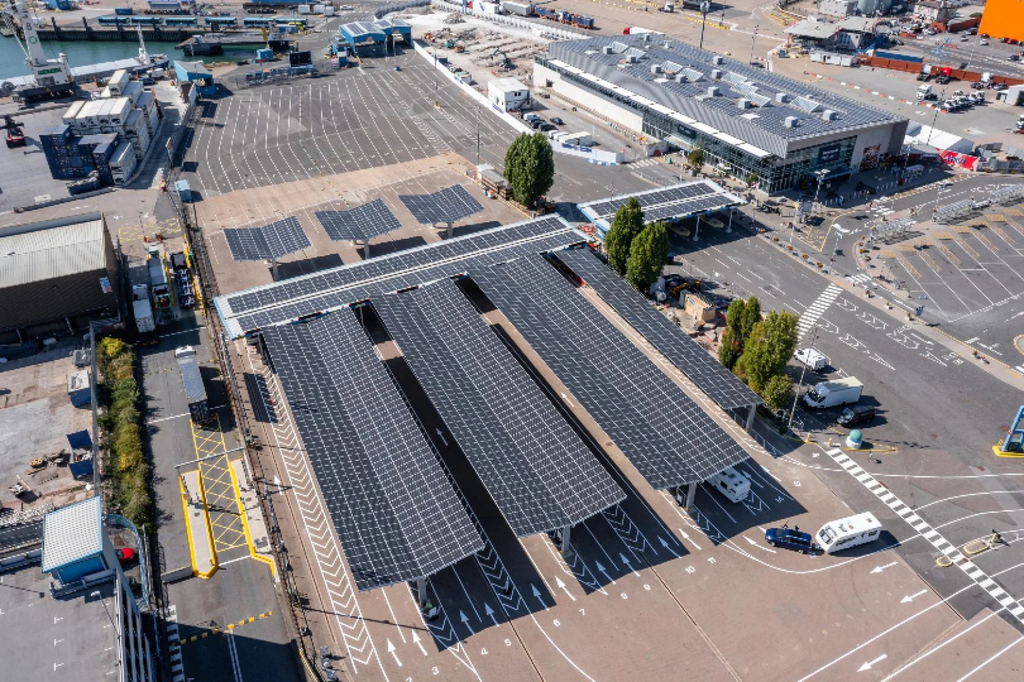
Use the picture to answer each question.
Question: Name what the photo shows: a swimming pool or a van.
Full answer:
Visible in the photo is a van.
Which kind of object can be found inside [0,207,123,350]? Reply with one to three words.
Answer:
warehouse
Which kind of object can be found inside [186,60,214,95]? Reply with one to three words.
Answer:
shed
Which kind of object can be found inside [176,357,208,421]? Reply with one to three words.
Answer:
trailer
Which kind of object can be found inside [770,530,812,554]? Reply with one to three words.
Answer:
car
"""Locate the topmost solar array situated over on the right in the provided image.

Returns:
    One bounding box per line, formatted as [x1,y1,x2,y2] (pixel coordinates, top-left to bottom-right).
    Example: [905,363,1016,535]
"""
[549,36,903,138]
